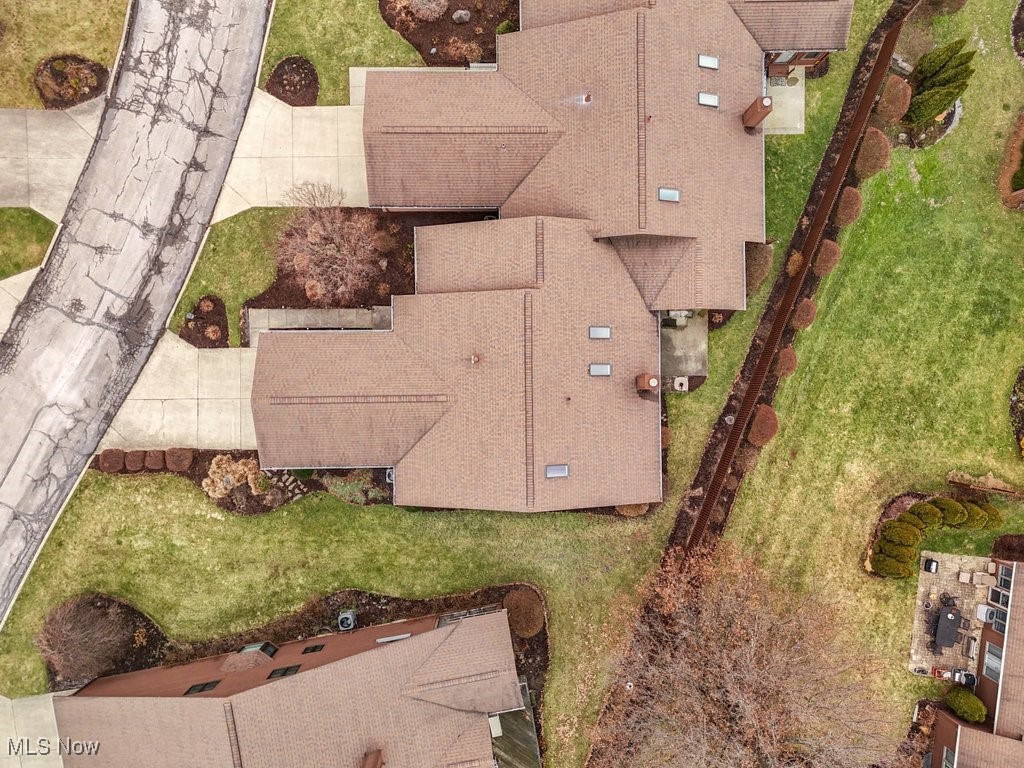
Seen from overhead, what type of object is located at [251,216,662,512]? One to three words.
house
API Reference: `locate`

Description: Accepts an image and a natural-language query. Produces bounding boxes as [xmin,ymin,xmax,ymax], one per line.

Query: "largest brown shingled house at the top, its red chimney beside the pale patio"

[363,0,856,308]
